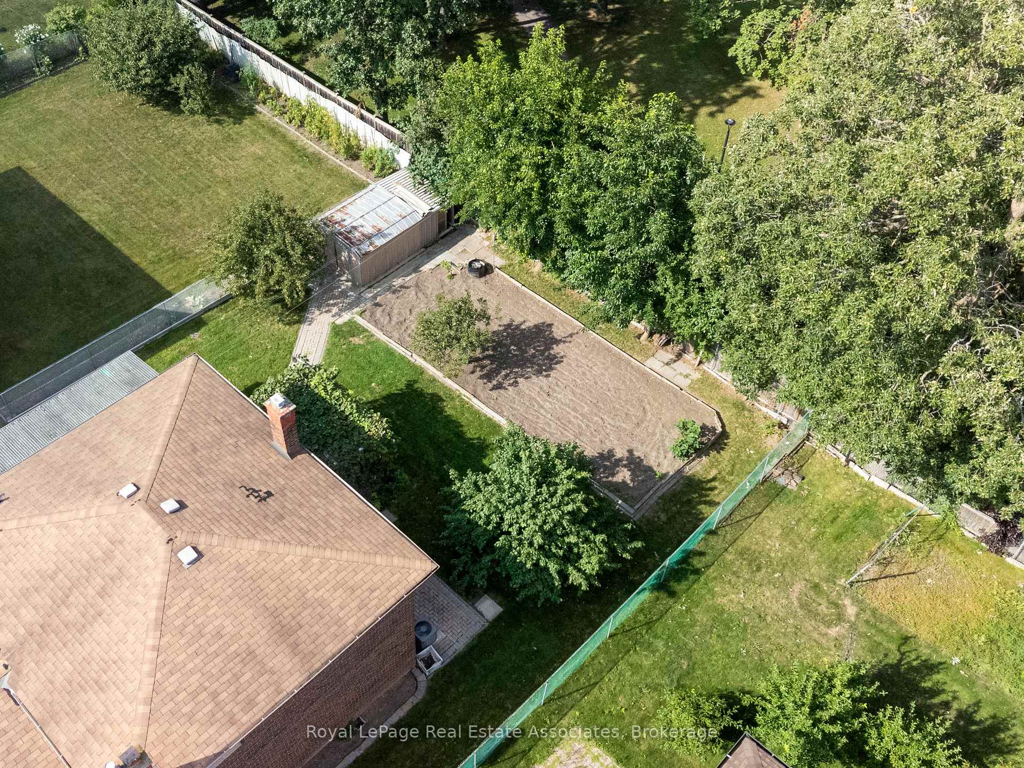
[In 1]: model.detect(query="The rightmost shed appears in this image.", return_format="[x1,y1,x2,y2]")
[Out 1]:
[719,733,792,768]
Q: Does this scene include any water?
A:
No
